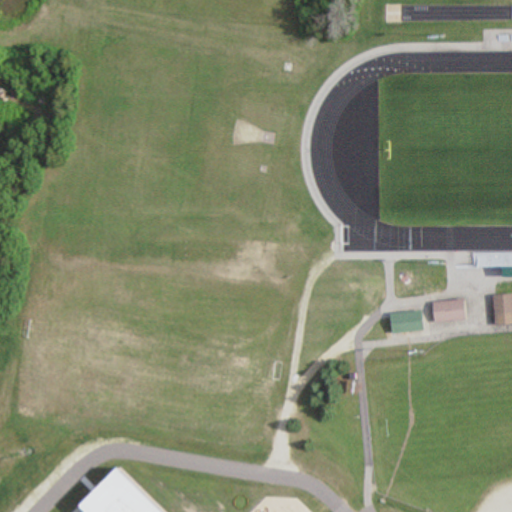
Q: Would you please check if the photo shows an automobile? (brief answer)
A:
No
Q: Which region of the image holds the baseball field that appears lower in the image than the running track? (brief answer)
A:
bottom right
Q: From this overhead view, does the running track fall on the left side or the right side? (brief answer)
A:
right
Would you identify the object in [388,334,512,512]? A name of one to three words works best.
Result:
baseball field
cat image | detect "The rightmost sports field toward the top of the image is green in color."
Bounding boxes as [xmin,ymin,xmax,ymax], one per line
[378,72,512,228]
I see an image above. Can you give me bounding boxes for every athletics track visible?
[312,50,512,251]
